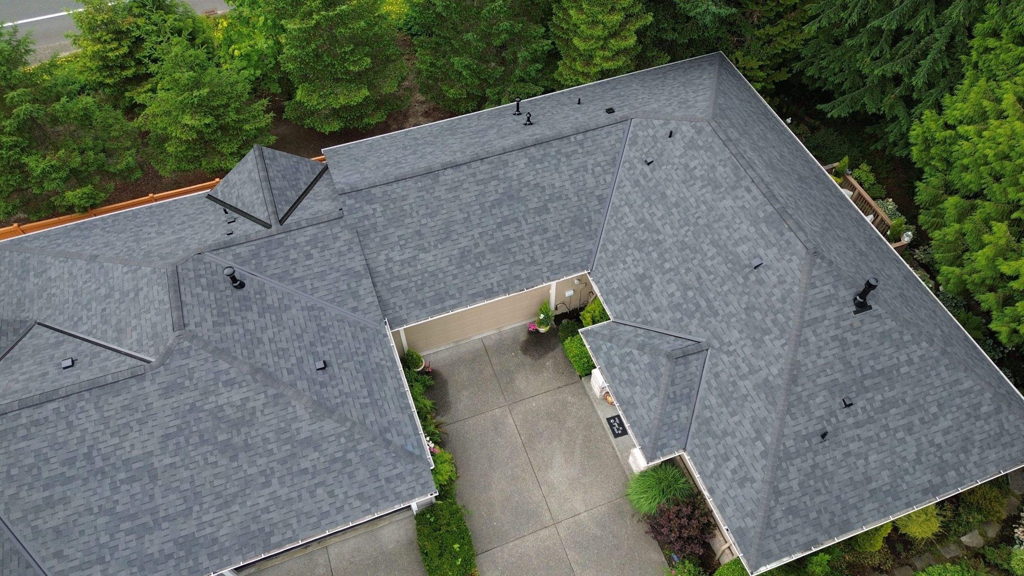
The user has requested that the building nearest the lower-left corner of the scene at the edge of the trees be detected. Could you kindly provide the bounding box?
[0,143,441,576]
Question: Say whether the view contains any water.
No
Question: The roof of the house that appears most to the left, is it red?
No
